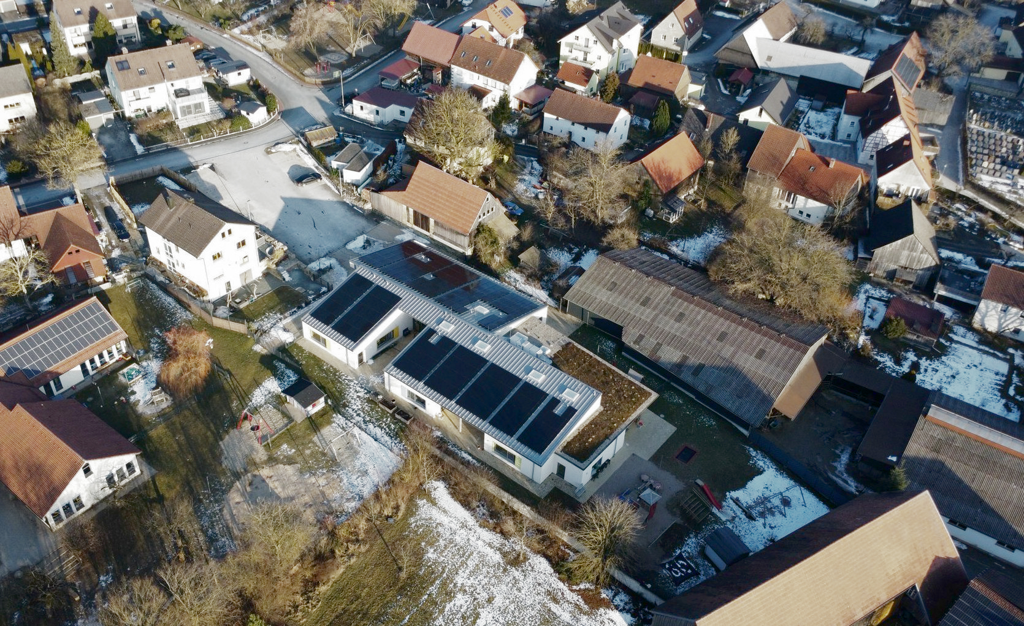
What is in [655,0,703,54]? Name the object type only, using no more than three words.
house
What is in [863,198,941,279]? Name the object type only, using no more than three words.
barn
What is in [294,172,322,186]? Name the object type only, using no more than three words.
car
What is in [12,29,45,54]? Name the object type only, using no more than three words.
building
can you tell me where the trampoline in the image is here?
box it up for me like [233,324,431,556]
[675,445,697,464]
